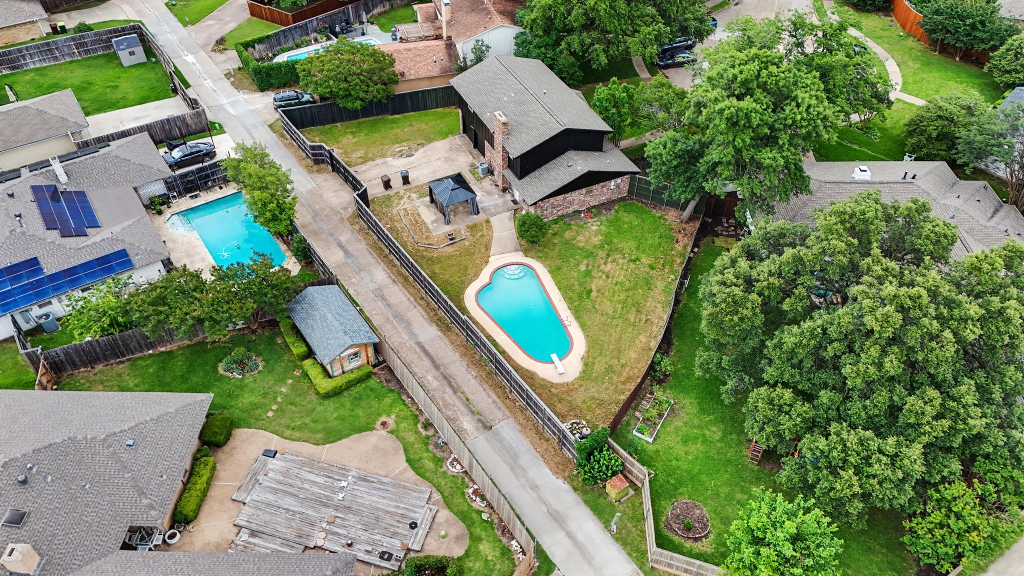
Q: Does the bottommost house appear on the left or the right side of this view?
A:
left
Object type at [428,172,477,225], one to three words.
gazebo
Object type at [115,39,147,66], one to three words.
shed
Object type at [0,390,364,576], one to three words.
house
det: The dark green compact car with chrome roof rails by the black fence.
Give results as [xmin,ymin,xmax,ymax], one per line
[271,85,315,108]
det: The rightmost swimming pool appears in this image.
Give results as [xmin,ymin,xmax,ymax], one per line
[474,261,573,363]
